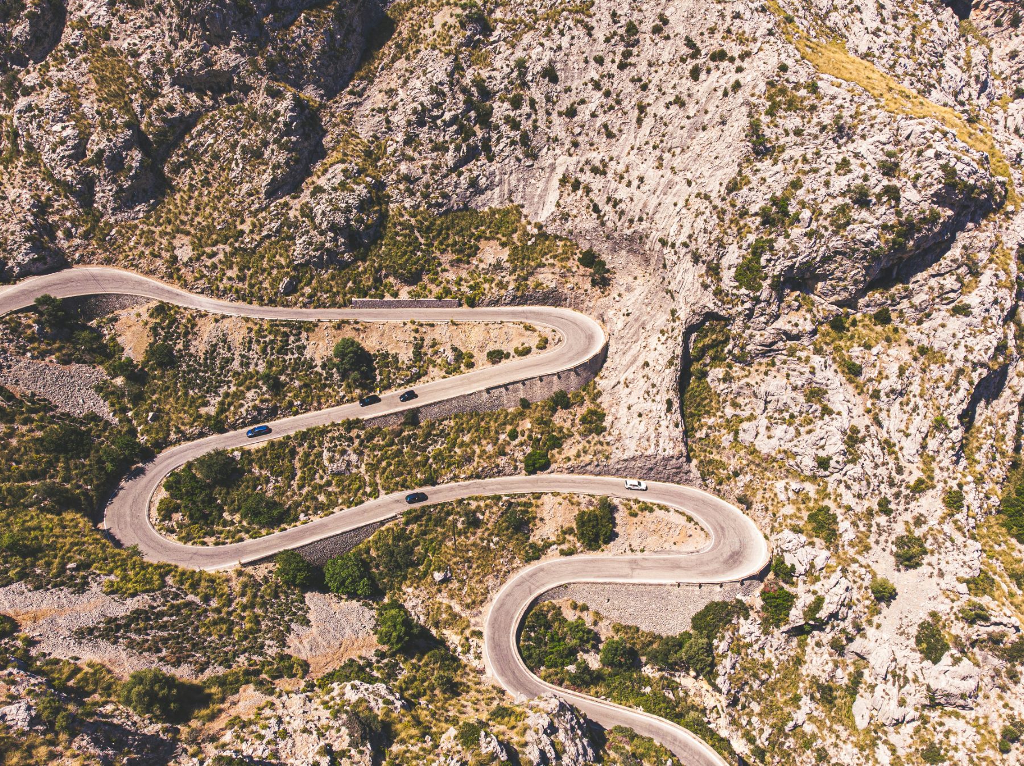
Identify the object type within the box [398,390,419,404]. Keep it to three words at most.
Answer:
car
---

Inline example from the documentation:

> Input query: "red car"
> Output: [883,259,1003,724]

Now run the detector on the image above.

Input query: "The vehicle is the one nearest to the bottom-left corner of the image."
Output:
[246,426,270,440]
